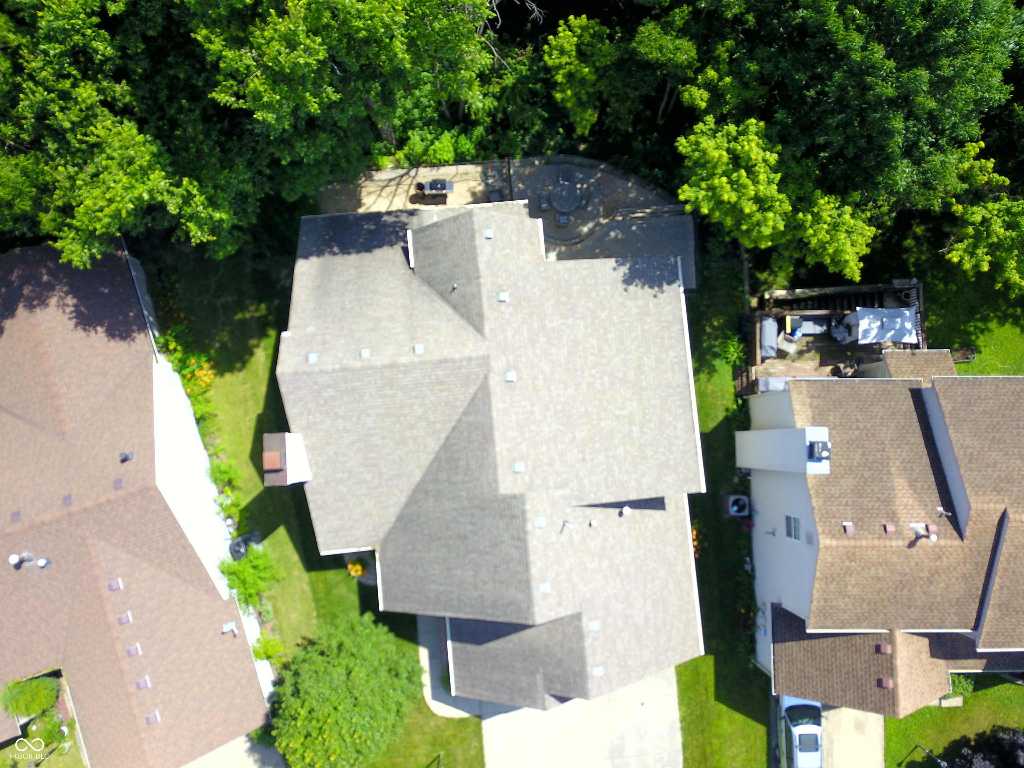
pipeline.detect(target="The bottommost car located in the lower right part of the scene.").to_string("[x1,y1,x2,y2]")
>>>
[773,694,829,768]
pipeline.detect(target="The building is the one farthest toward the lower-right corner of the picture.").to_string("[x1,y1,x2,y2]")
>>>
[735,346,1024,718]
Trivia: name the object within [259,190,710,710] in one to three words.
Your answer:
house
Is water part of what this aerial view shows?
No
